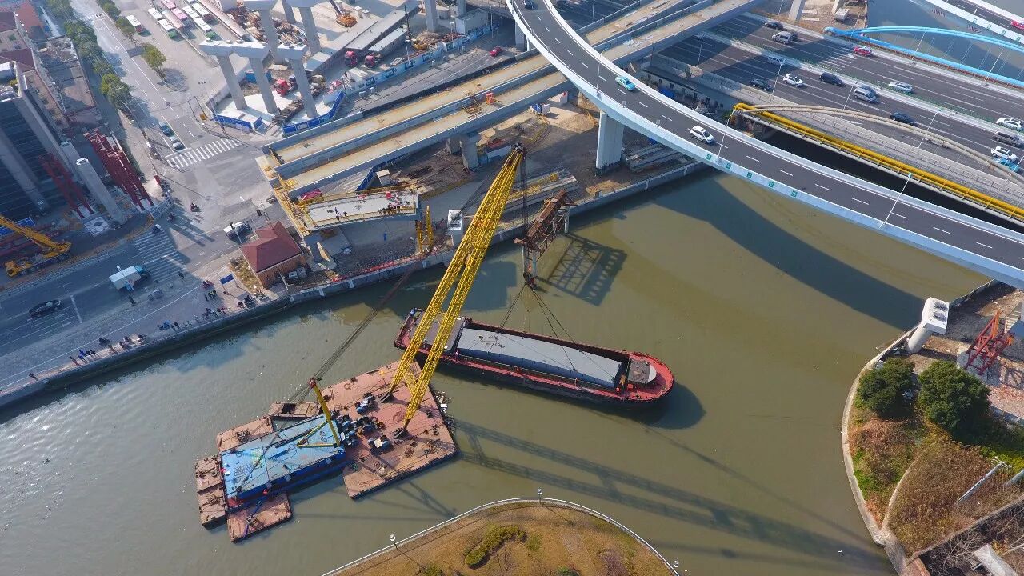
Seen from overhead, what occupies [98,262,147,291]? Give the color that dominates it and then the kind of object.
blue truck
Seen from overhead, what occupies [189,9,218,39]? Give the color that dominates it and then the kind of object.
white bus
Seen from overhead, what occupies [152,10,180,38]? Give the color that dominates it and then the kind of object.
white bus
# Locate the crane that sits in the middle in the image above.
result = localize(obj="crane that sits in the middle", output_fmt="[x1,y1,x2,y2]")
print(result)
[245,139,579,486]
